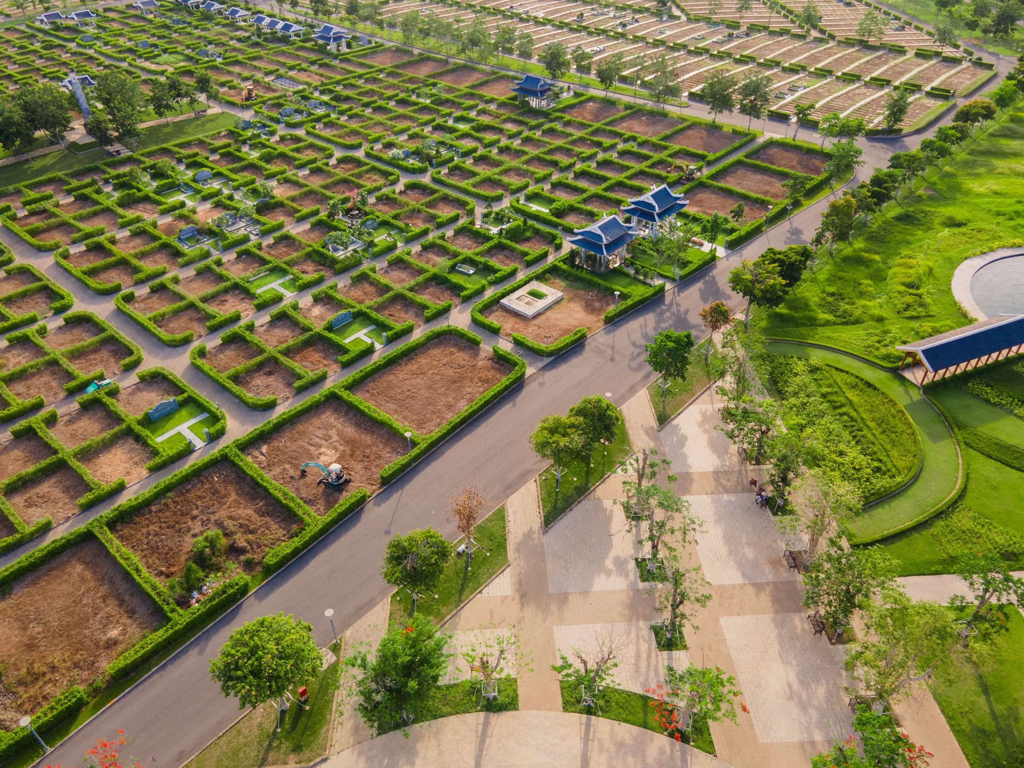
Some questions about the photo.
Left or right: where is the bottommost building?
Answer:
right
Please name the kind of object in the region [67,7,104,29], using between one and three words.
building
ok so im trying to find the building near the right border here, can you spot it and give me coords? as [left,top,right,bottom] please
[891,306,1024,386]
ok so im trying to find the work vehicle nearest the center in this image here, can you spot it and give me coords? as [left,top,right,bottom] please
[300,451,348,493]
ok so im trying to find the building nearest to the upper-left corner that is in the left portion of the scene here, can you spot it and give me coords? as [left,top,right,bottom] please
[33,8,71,31]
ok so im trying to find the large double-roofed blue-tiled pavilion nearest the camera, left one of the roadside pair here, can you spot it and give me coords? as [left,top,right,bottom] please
[562,208,644,276]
